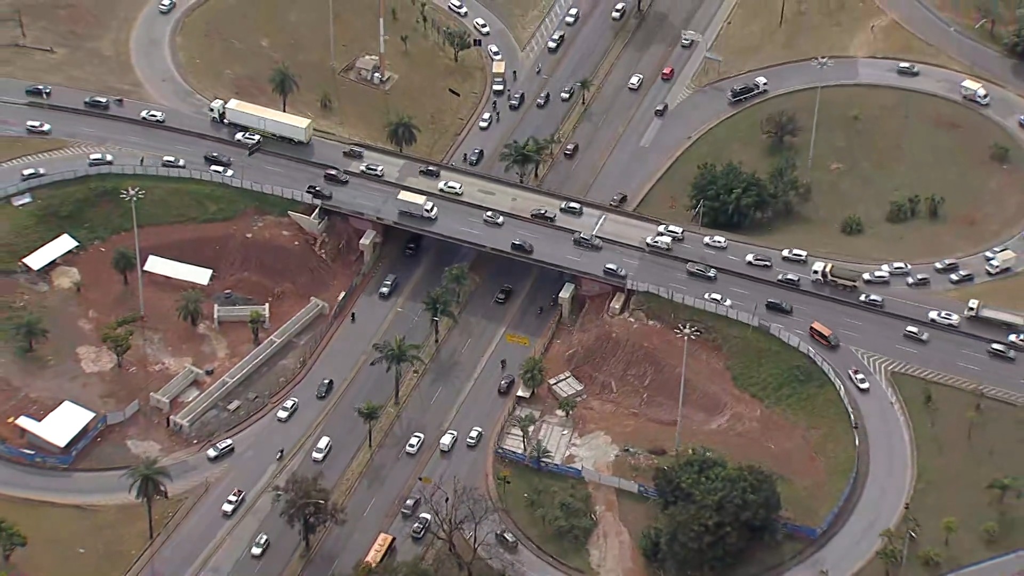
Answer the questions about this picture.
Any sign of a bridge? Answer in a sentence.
Yes, the image includes a bridge.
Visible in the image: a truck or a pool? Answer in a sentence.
The image shows a truck.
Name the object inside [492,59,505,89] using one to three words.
vehicle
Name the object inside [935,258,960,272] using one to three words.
car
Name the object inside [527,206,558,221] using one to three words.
vehicle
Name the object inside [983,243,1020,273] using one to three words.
truck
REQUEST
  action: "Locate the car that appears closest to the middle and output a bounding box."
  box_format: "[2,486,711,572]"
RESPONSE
[495,285,512,303]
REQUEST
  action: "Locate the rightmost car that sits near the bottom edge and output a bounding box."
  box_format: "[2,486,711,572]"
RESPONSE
[494,529,519,548]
